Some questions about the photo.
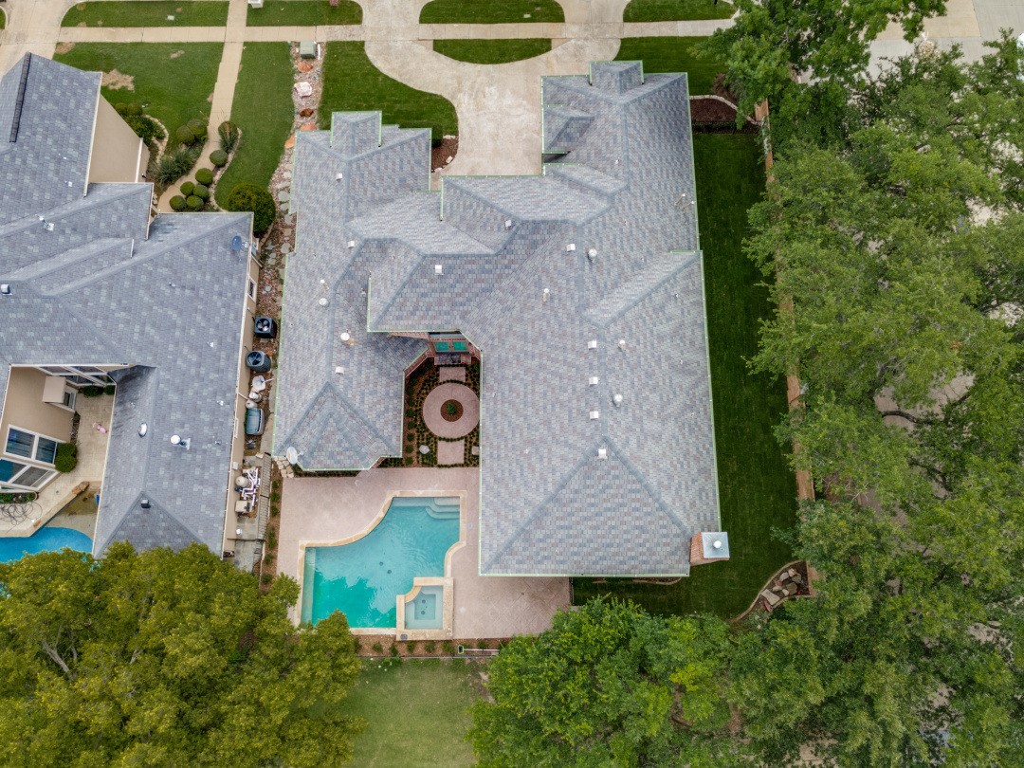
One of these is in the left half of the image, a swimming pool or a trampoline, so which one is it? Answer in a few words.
swimming pool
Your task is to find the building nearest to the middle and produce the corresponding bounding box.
[270,60,729,577]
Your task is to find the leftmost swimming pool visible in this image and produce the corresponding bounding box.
[0,526,91,594]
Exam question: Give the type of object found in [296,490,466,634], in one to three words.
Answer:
swimming pool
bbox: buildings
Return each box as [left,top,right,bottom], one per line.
[270,60,729,577]
[0,52,264,569]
